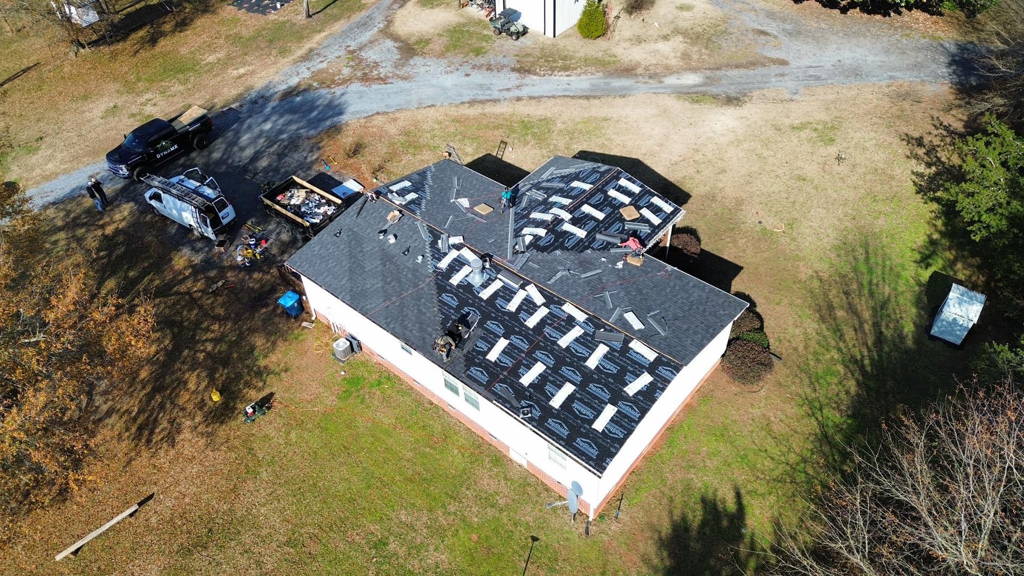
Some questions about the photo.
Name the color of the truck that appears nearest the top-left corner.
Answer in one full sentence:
From above, the truck that appears nearest the top-left corner appears black.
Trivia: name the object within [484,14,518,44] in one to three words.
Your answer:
vehicle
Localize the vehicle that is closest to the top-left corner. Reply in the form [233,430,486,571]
[98,112,217,183]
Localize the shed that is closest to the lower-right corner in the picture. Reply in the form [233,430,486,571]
[929,282,983,345]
